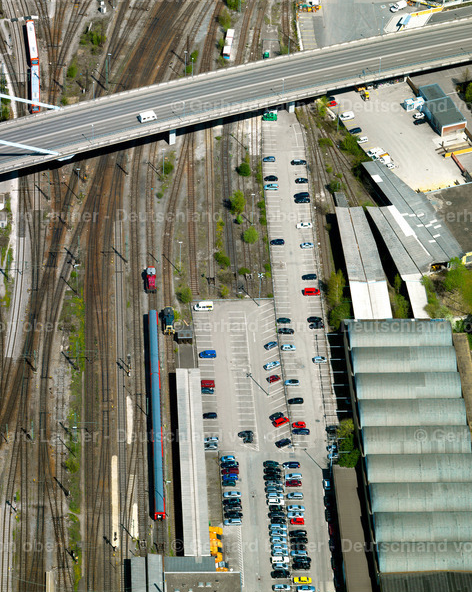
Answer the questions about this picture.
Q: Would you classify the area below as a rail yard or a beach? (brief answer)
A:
rail yard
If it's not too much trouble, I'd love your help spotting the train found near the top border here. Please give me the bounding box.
[27,19,40,112]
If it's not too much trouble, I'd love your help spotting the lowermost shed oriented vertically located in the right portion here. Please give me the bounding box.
[331,465,375,592]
